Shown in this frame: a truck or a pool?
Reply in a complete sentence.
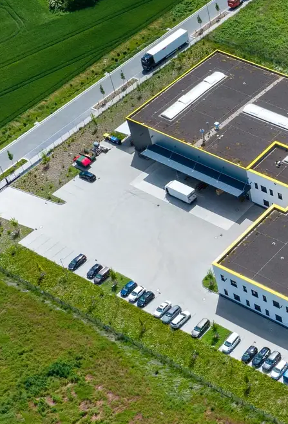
Of the two, only a truck appears.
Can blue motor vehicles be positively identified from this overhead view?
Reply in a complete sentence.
Yes, I can see a blue motor vehicle in this picture.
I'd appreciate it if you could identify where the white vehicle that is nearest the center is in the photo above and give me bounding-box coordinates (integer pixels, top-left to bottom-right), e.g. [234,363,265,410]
[168,180,201,204]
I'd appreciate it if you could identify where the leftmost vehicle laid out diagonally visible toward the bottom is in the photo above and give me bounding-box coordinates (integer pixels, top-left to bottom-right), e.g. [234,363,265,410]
[67,254,87,271]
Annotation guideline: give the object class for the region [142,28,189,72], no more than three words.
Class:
truck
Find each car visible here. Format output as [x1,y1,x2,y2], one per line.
[92,266,113,285]
[251,346,272,369]
[127,285,146,303]
[169,311,190,329]
[271,362,288,380]
[241,346,259,364]
[281,370,288,384]
[118,280,140,299]
[135,289,156,309]
[152,300,174,319]
[160,304,182,324]
[85,263,105,281]
[262,350,282,373]
[79,171,98,183]
[67,254,87,271]
[221,332,242,354]
[190,317,211,338]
